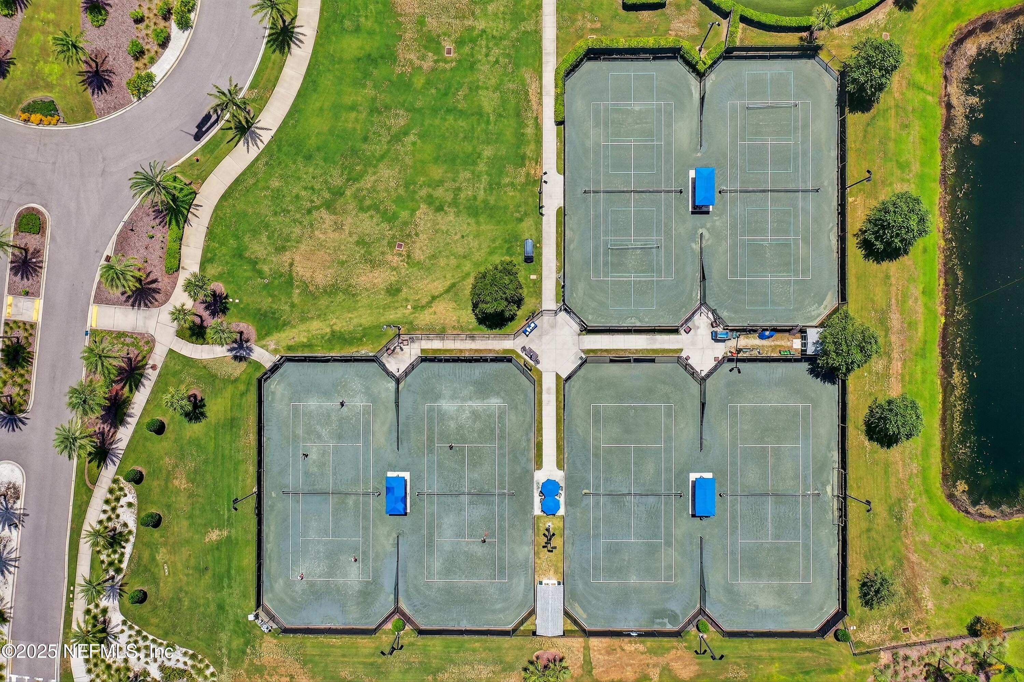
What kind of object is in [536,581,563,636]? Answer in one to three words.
shed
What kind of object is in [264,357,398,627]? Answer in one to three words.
tennis court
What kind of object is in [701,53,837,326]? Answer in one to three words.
tennis court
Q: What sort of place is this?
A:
sports ground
